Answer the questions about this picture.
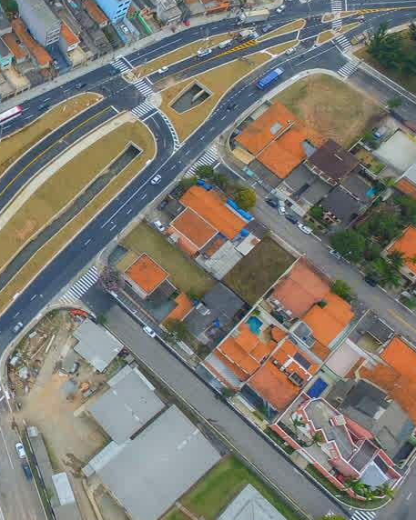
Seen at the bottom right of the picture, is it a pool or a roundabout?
pool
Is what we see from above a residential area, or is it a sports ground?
residential area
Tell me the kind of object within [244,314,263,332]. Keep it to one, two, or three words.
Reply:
swimming pool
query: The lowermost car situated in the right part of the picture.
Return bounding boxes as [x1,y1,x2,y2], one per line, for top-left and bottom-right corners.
[362,276,377,289]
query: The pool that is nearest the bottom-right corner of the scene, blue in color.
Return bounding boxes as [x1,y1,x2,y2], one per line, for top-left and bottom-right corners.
[304,376,331,400]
